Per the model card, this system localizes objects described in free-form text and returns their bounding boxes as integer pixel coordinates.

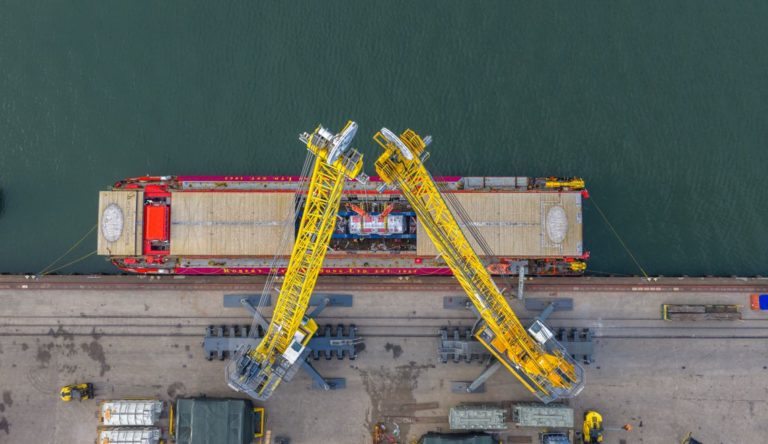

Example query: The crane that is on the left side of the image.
[203,119,369,404]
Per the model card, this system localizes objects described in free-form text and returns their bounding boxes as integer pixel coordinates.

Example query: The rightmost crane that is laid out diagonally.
[366,124,593,403]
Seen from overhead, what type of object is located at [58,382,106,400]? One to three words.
work vehicle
